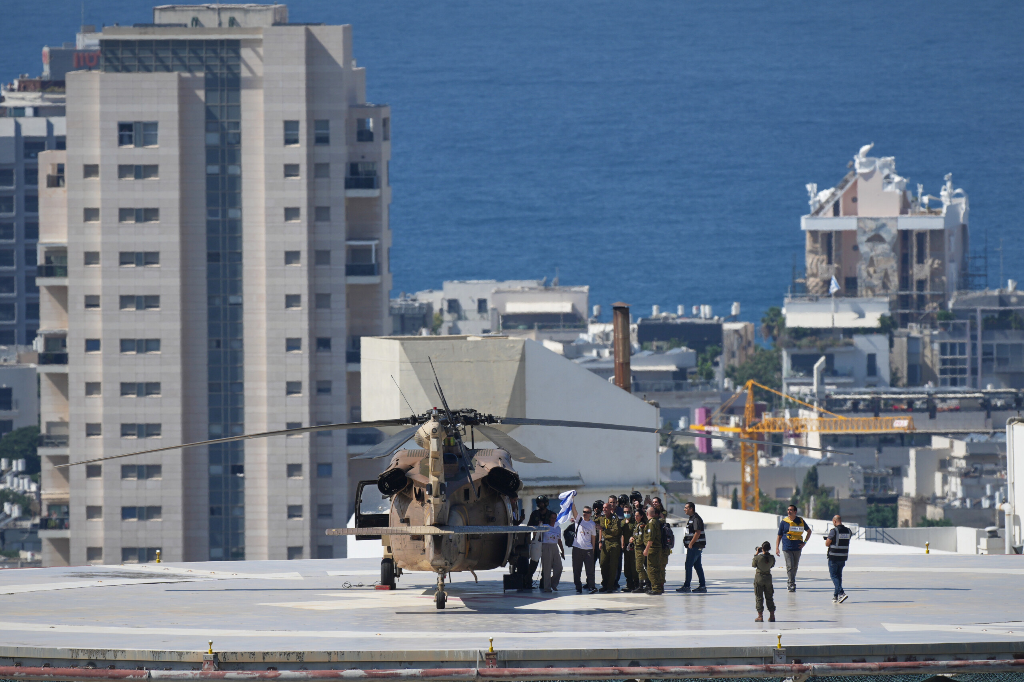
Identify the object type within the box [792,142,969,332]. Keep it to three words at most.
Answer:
house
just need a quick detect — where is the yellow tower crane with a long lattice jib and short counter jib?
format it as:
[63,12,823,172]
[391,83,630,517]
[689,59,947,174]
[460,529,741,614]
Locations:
[690,383,920,508]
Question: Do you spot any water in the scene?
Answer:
Yes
